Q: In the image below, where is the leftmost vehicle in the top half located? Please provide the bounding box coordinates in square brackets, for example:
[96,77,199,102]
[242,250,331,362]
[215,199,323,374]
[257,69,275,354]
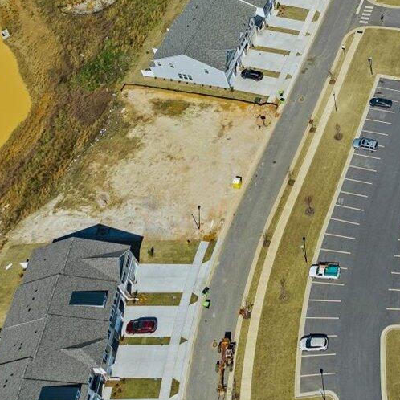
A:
[240,67,263,79]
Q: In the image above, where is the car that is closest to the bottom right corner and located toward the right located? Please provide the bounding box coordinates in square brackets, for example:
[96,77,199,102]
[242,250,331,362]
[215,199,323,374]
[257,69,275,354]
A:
[298,333,330,350]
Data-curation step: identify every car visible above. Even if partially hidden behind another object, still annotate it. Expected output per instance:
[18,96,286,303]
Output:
[125,316,157,333]
[298,333,330,350]
[369,93,394,107]
[240,67,263,79]
[353,137,379,150]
